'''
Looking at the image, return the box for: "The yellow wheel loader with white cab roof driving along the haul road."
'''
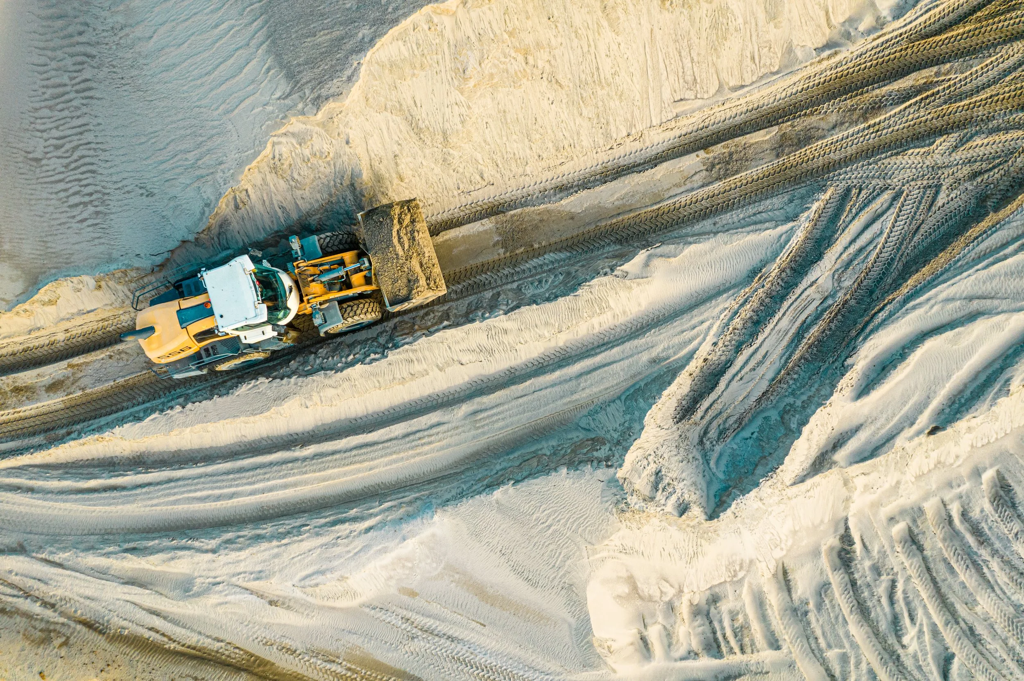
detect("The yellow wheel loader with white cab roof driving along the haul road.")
[121,200,447,379]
